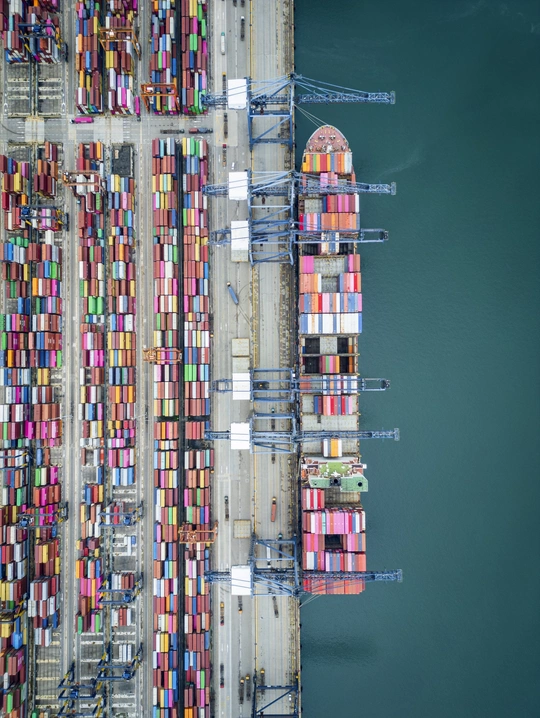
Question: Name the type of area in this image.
port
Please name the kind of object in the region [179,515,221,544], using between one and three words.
container crane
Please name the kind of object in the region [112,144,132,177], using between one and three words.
shed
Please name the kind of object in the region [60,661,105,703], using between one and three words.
container crane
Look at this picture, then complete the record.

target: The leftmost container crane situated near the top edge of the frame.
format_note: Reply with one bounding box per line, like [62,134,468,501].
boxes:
[20,22,72,62]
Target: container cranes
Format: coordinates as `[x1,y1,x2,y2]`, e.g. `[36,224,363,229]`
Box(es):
[179,515,221,544]
[210,218,388,272]
[209,365,390,403]
[203,166,396,228]
[20,204,71,233]
[99,27,146,67]
[203,69,395,149]
[205,532,402,596]
[20,22,72,62]
[60,661,105,703]
[142,346,190,367]
[98,571,146,605]
[59,687,105,718]
[98,642,146,682]
[98,499,146,527]
[205,409,400,452]
[248,675,299,718]
[60,171,109,201]
[142,83,187,118]
[0,447,34,470]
